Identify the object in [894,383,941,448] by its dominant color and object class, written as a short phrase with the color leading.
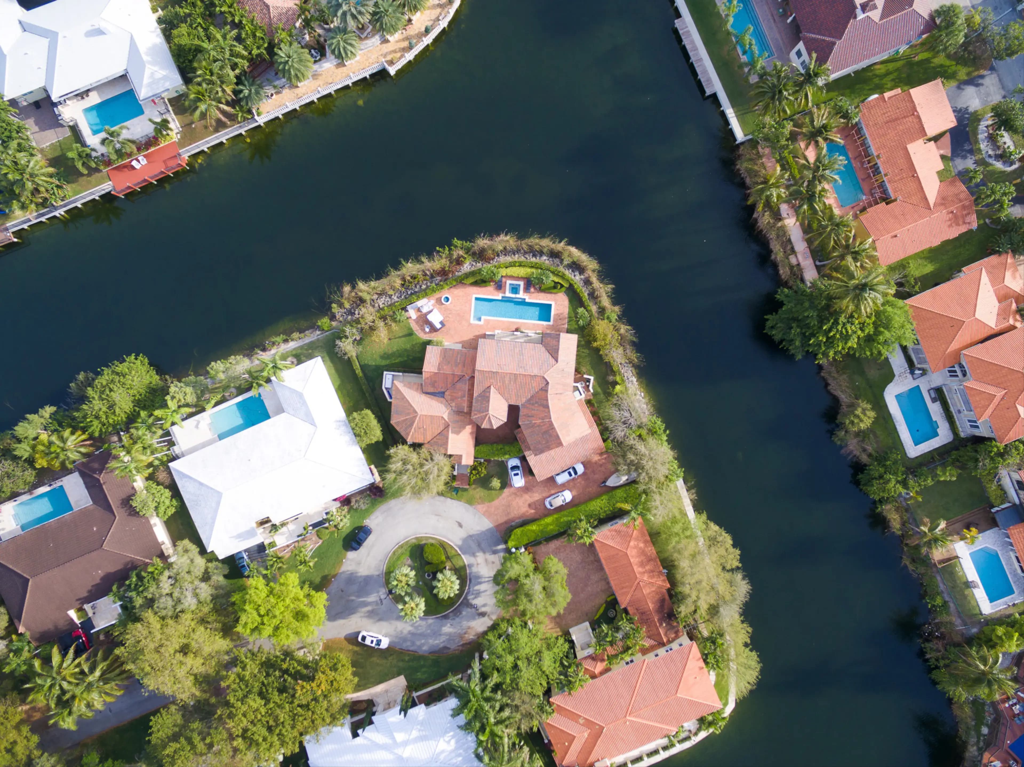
blue swimming pool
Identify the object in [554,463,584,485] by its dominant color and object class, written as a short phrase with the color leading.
white car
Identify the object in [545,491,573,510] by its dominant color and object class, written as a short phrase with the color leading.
white car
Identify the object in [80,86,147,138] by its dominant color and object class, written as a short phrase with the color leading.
blue swimming pool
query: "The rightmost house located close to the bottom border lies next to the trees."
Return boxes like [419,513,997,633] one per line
[543,517,723,767]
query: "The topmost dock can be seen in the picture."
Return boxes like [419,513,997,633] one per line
[675,17,716,95]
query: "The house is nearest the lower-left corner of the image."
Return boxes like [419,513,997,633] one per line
[0,450,168,647]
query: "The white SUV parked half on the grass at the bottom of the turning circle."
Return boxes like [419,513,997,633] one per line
[358,630,389,650]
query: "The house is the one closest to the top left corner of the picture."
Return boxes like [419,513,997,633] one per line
[0,0,186,106]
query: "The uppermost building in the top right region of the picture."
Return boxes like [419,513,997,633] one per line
[780,0,936,85]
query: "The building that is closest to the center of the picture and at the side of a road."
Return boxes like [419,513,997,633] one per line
[390,329,605,482]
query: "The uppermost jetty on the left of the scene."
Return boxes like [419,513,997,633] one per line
[101,138,190,198]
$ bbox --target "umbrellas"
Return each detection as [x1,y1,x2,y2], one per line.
[1013,714,1024,726]
[1016,699,1024,711]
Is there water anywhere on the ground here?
Yes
